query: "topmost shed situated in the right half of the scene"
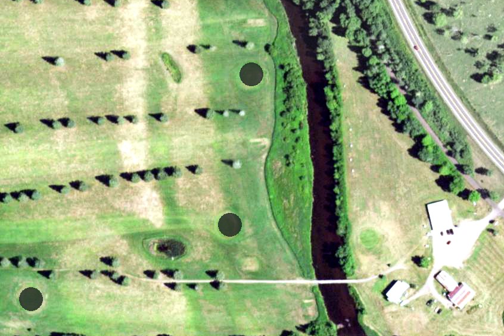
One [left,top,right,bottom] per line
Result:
[427,201,454,230]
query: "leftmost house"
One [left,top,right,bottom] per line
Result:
[385,279,412,302]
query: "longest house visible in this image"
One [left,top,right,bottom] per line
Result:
[435,271,480,306]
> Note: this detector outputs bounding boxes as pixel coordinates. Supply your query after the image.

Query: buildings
[427,201,454,230]
[435,271,480,306]
[385,279,412,302]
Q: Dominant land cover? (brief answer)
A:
grass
